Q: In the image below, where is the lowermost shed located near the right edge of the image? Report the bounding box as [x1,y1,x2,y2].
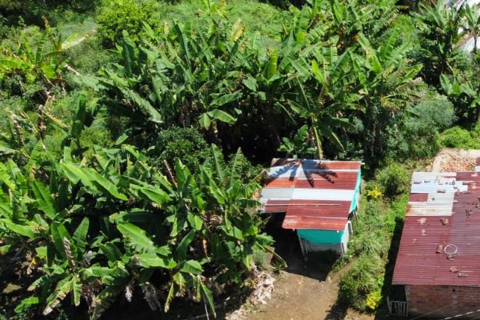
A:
[392,166,480,318]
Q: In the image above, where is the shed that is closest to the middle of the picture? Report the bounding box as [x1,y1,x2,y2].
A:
[262,158,366,260]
